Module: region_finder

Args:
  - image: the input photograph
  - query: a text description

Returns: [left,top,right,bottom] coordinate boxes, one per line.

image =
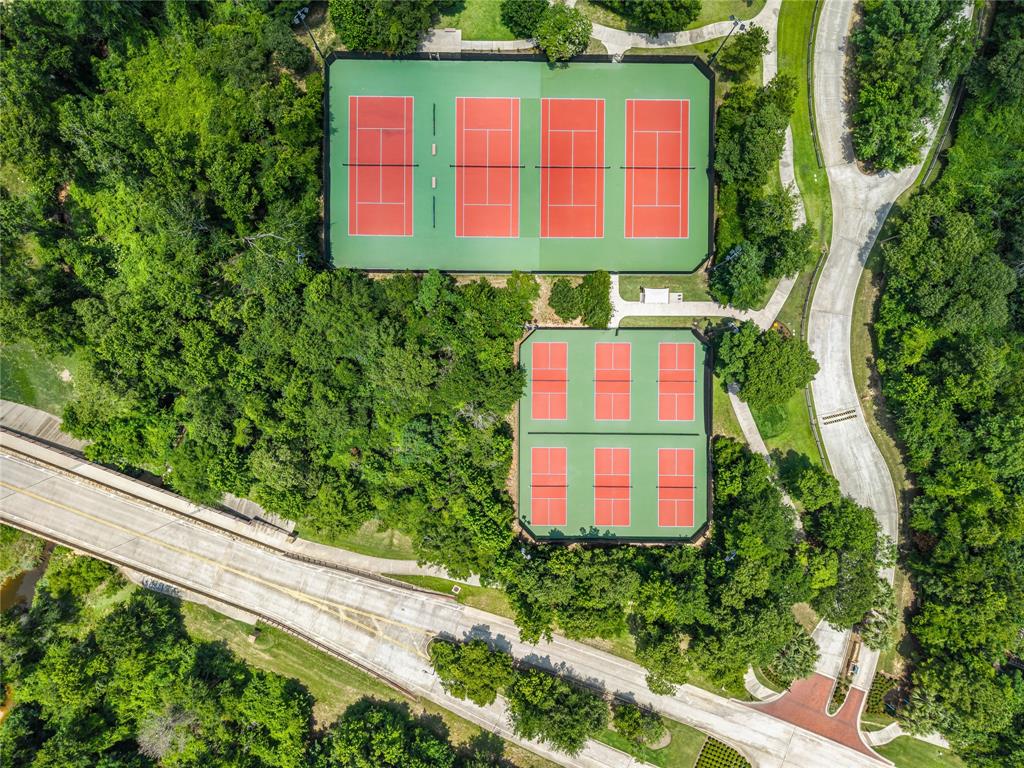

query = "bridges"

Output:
[0,426,285,620]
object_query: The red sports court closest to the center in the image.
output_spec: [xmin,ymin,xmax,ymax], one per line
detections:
[531,342,568,421]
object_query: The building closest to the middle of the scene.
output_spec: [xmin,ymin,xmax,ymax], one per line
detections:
[645,287,672,304]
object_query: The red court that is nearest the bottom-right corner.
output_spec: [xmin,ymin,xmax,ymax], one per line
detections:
[658,448,695,527]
